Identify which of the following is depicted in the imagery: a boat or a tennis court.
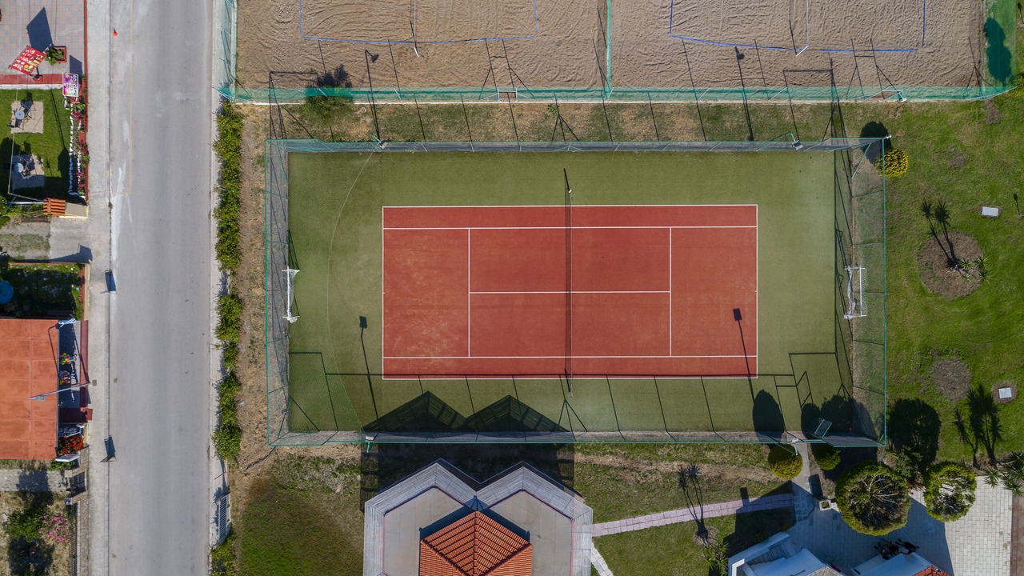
tennis court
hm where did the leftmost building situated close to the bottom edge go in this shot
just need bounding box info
[364,459,593,576]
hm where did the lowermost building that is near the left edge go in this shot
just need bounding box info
[0,319,81,460]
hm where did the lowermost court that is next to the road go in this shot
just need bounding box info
[288,152,852,432]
